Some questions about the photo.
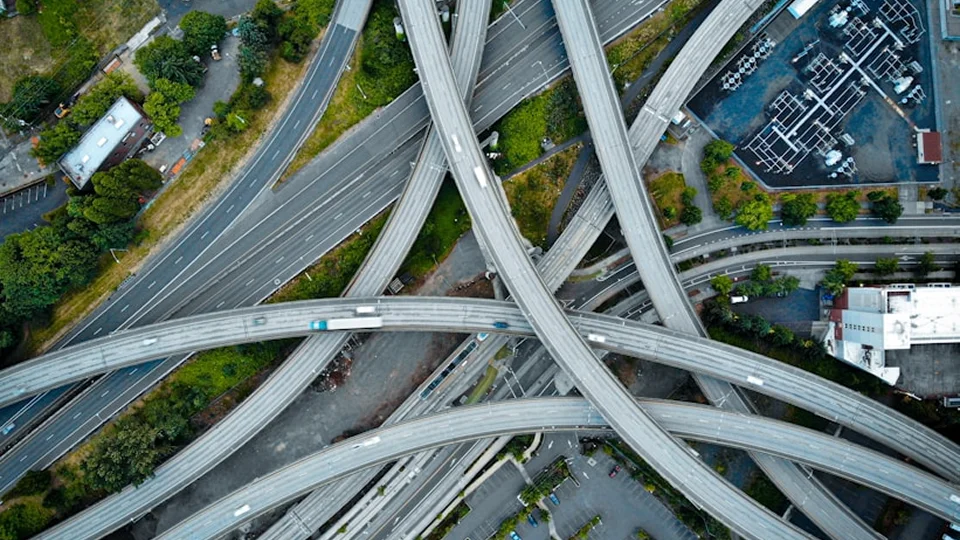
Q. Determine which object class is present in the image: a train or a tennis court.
train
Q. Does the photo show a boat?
No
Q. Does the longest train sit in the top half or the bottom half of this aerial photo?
bottom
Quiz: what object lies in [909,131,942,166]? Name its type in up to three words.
shed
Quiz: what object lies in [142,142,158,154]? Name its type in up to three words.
vehicle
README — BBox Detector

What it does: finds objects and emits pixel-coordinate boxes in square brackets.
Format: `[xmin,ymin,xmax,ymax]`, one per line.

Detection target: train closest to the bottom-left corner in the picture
[418,338,480,398]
